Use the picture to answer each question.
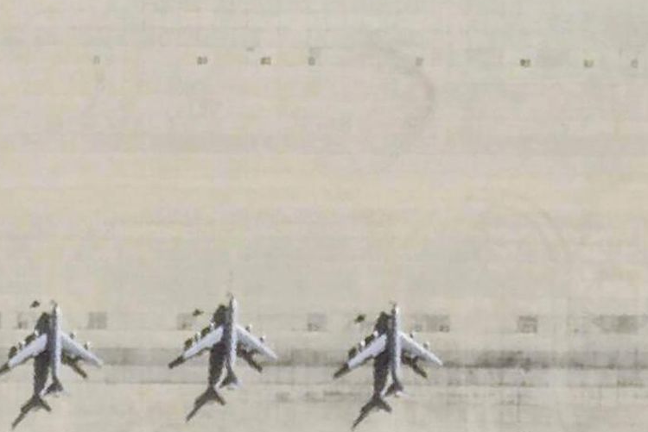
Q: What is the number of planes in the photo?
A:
three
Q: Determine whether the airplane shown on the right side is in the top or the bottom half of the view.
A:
bottom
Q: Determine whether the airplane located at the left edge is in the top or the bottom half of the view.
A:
bottom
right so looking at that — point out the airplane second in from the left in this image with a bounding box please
[186,297,280,391]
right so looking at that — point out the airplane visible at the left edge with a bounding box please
[10,306,104,396]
